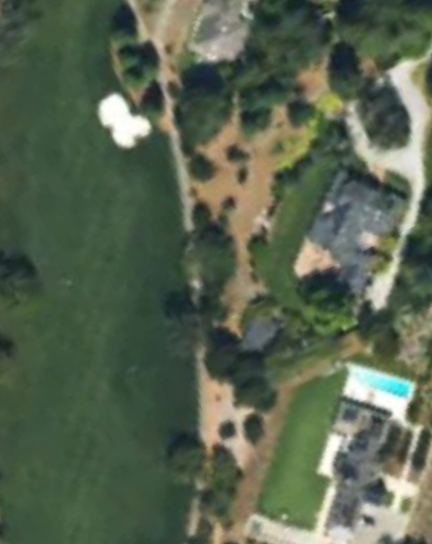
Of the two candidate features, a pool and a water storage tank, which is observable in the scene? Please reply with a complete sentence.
It is a pool that can be seen here.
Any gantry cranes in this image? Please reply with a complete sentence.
No, the photo shows no gantry crane.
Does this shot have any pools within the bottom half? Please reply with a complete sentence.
Yes, a pool shows up within the bottom half.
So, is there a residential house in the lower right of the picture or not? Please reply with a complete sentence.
Yes, the scene does show a residential house in the lower right of the picture.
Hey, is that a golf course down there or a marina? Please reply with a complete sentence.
This image shows a golf course.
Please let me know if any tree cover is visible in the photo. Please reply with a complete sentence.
Yes, tree cover can be seen from above here.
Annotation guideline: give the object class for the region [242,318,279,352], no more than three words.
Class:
shed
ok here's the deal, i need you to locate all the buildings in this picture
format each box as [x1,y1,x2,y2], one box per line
[242,318,279,352]
[301,170,409,299]
[326,392,396,541]
[197,0,247,62]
